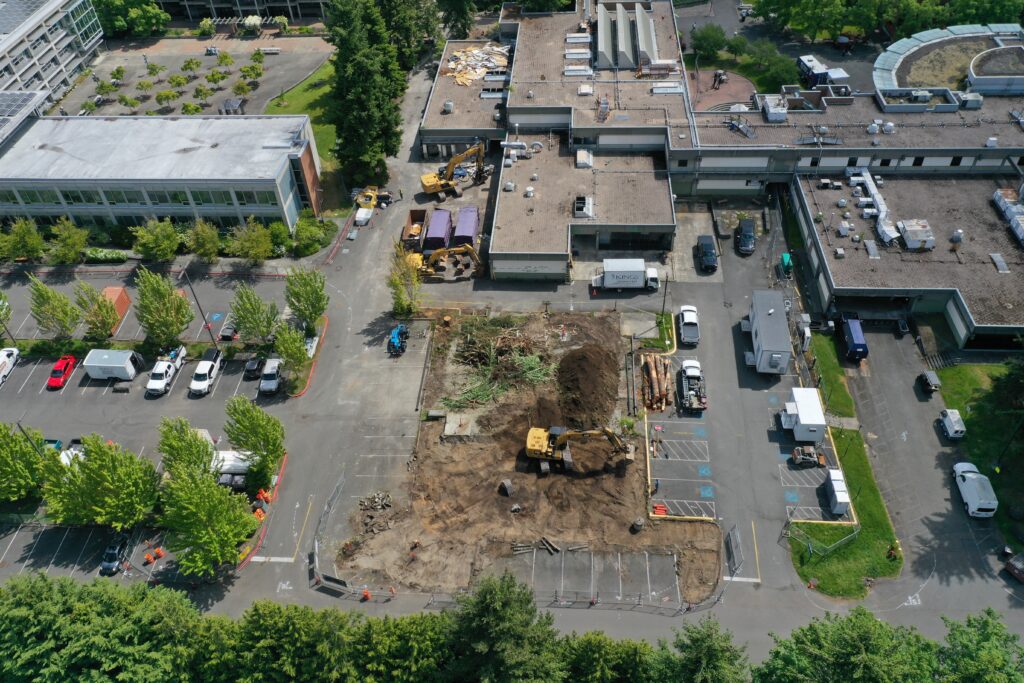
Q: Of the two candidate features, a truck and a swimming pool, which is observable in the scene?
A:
truck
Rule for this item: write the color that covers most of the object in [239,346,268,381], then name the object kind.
black car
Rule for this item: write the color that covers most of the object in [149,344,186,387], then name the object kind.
white truck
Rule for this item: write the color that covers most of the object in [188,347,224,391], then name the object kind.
white truck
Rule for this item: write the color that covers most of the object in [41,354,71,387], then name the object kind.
red car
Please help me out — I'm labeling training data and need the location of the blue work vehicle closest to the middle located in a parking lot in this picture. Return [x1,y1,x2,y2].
[386,318,407,351]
